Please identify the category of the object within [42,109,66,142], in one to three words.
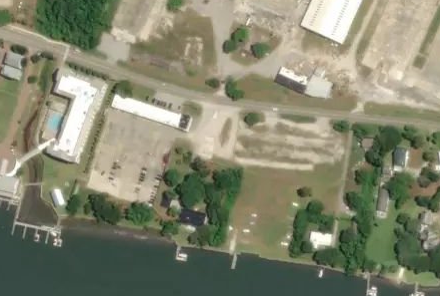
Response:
swimming pool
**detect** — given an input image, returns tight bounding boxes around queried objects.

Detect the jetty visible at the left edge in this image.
[0,195,61,243]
